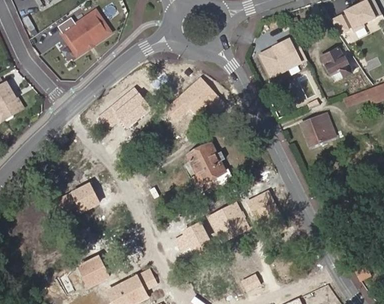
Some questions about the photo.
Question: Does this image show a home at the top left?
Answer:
Yes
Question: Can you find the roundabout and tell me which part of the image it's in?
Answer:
top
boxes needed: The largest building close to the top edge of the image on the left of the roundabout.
[58,9,113,58]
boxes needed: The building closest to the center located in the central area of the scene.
[186,143,227,185]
